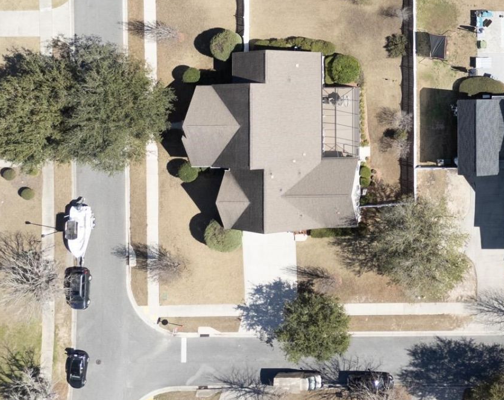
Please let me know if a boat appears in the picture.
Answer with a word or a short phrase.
Yes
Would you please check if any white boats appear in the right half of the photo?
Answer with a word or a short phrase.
No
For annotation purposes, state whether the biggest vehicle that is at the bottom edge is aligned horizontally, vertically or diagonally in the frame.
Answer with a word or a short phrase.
horizontally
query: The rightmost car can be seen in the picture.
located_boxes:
[349,372,392,391]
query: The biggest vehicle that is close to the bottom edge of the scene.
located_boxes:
[271,371,322,395]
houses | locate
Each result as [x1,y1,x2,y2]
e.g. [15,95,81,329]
[458,96,504,176]
[183,51,364,236]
